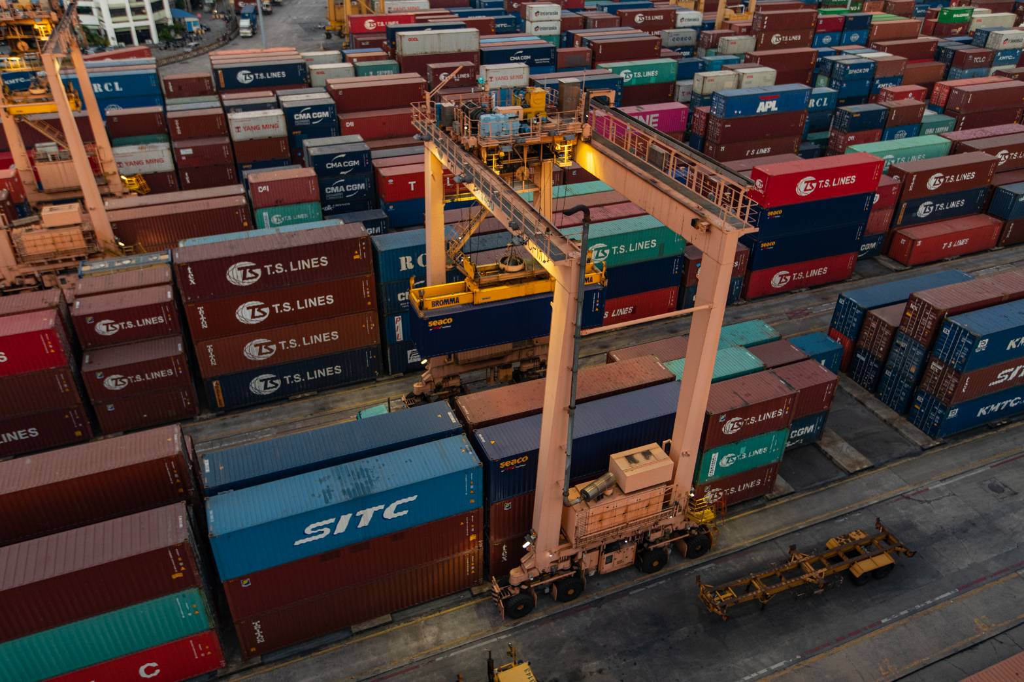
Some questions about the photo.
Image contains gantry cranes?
Yes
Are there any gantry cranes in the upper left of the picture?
Yes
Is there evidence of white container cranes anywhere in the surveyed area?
No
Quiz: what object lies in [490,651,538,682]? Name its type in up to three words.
vehicle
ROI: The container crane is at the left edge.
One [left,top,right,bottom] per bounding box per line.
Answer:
[0,0,148,283]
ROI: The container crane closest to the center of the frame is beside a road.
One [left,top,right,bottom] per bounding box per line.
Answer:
[394,46,777,625]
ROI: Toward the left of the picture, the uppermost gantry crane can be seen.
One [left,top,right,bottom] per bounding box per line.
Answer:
[324,0,387,49]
